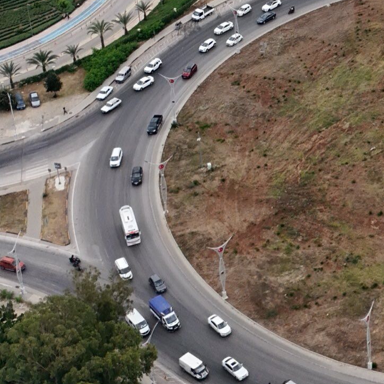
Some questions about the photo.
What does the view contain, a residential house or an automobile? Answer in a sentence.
There is an automobile in the scene.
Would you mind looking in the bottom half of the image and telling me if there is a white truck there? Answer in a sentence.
Yes, the scene does show a white truck in the bottom half of the image.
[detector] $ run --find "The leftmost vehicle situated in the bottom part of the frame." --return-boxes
[0,256,28,273]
